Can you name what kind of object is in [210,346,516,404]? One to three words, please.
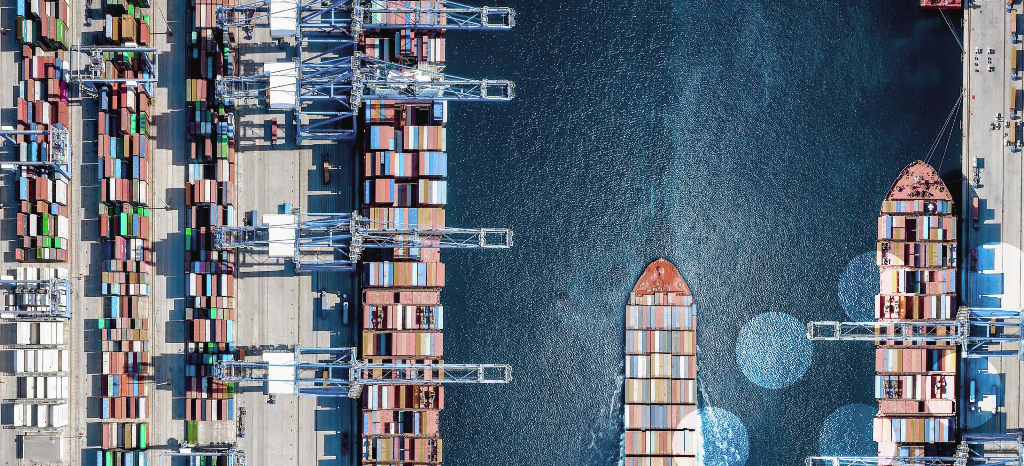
container crane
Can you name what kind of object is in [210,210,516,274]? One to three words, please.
container crane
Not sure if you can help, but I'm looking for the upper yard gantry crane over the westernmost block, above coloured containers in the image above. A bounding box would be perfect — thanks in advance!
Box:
[0,124,77,179]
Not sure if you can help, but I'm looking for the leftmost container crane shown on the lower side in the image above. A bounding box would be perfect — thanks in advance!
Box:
[0,276,77,328]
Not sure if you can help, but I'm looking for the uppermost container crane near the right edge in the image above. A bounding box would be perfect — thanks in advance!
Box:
[809,301,1024,362]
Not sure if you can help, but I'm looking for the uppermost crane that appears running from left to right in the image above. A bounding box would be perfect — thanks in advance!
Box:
[210,0,516,67]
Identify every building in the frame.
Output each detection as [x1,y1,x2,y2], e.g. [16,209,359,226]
[19,437,66,461]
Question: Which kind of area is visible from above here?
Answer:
port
